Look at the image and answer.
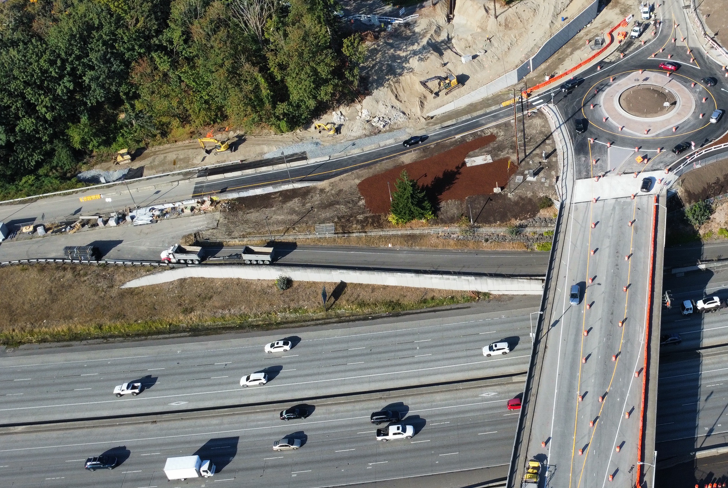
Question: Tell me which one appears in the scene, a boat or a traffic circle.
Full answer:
Of the two, only a traffic circle appears.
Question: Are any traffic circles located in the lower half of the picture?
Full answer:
No, no traffic circle is visible in the lower half of the picture.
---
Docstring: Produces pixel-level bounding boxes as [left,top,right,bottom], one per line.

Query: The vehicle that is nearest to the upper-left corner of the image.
[107,147,137,168]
